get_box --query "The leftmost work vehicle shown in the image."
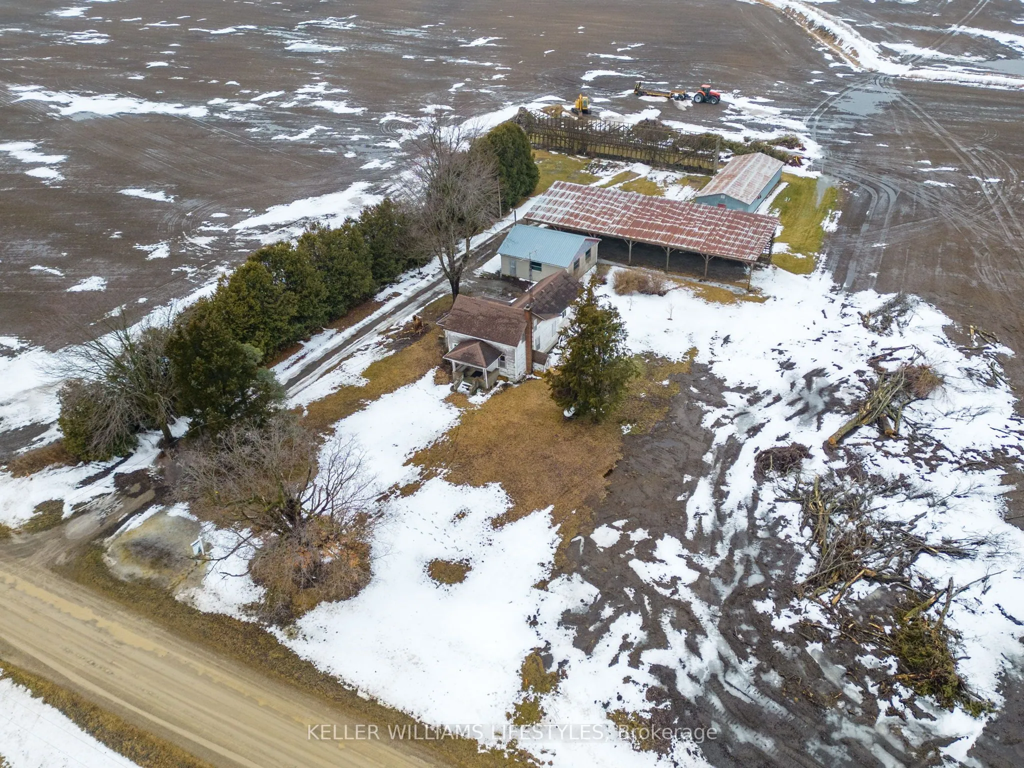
[573,87,591,116]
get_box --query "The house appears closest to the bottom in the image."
[434,268,586,394]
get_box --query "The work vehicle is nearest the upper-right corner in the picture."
[696,85,724,105]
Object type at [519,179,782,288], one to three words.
shed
